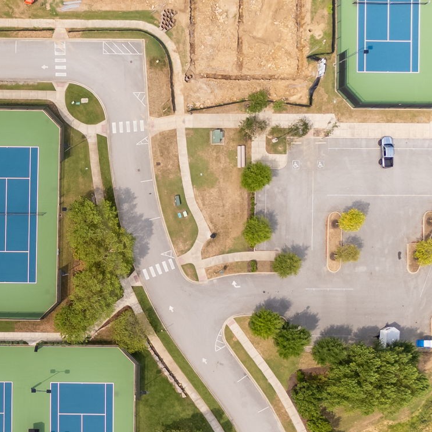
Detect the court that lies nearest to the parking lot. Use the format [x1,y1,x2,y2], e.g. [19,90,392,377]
[335,0,432,110]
